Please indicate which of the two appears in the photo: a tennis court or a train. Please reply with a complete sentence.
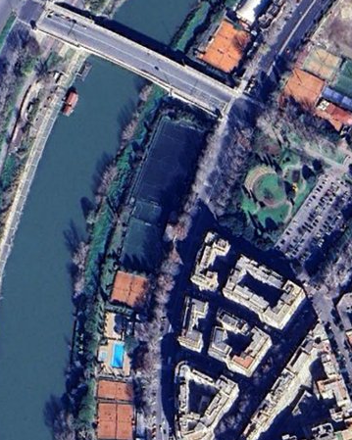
This aerial view contains a tennis court.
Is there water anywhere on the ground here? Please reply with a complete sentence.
Yes, there is water in the image.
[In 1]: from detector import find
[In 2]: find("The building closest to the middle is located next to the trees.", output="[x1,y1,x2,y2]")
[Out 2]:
[192,232,230,292]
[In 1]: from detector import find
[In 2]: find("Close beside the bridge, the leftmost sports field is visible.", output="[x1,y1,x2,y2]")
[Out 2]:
[133,118,205,214]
